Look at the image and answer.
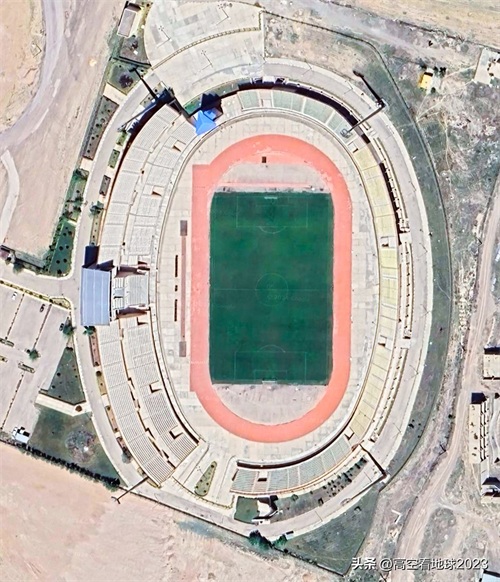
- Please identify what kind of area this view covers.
sports ground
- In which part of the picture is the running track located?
center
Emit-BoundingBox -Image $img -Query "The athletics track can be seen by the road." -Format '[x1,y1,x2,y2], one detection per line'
[190,135,352,443]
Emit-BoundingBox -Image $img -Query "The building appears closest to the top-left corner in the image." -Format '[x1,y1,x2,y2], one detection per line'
[116,7,141,38]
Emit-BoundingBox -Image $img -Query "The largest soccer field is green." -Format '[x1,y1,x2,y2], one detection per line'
[209,193,336,384]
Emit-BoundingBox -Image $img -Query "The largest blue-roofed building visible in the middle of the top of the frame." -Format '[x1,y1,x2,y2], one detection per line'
[198,104,226,135]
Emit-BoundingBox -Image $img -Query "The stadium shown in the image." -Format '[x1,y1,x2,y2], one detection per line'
[81,76,410,493]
